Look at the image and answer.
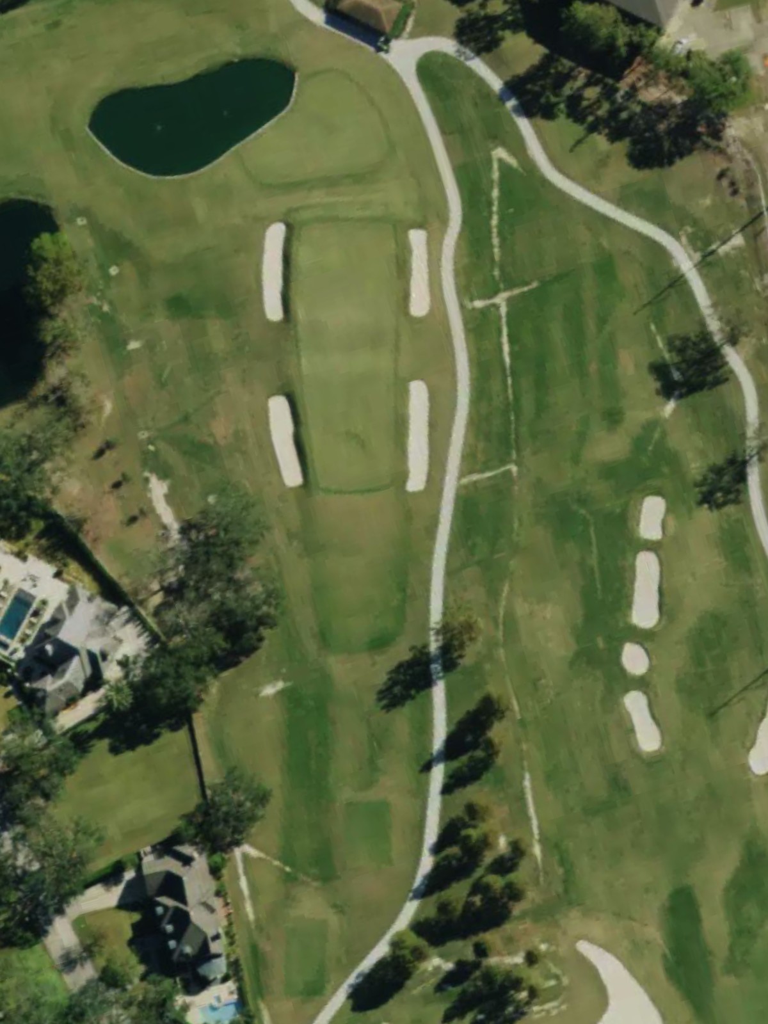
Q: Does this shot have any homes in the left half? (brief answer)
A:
Yes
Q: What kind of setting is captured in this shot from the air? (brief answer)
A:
golf course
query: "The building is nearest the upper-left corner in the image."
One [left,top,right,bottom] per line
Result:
[336,0,402,32]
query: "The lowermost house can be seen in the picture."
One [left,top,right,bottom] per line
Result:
[143,843,225,989]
